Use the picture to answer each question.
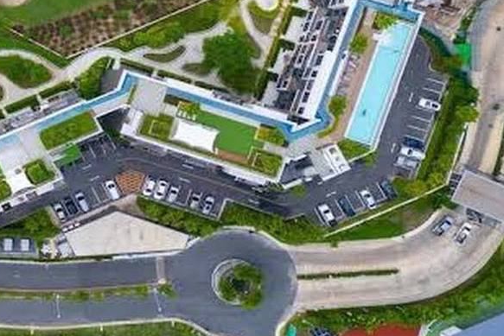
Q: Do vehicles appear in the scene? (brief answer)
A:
Yes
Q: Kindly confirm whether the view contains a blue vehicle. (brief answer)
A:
Yes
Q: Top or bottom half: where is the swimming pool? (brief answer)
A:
top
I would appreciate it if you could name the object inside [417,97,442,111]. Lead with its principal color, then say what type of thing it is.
white car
